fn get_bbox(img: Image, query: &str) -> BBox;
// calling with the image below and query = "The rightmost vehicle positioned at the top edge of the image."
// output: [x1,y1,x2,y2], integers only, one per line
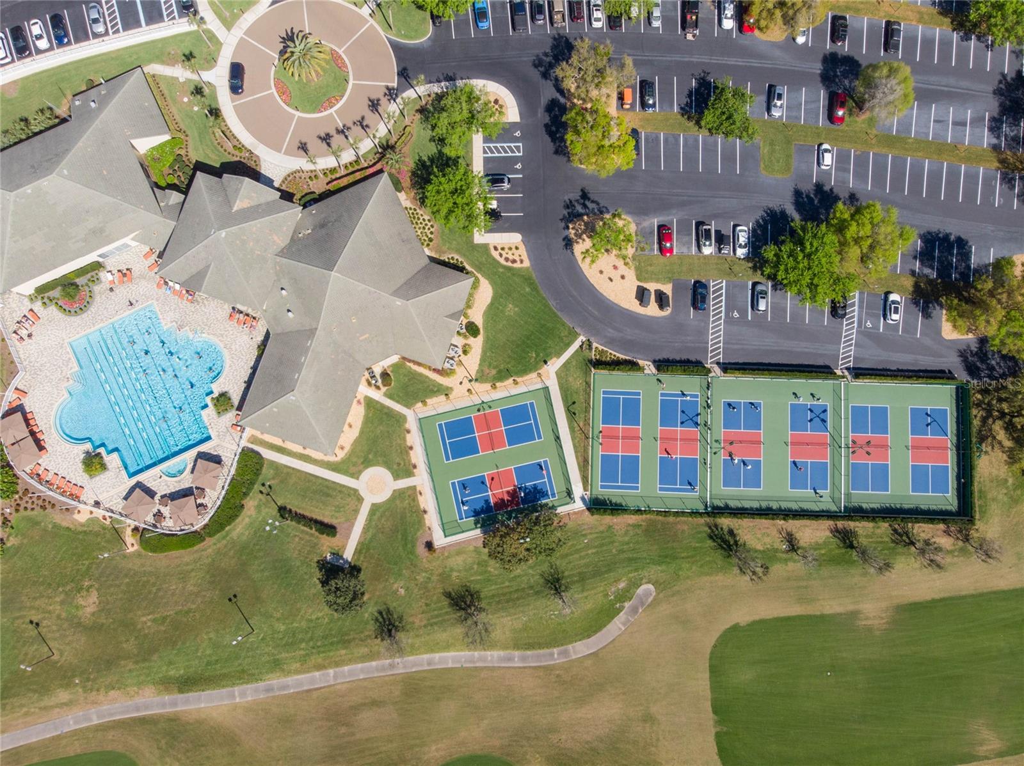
[884,22,901,55]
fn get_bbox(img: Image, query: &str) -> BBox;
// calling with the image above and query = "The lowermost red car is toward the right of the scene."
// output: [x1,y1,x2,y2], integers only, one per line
[659,226,674,256]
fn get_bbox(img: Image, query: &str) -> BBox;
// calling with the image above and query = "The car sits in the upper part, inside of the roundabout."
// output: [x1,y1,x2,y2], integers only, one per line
[228,62,245,94]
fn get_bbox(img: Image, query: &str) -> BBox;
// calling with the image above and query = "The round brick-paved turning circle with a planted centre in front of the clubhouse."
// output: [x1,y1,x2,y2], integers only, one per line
[215,0,400,169]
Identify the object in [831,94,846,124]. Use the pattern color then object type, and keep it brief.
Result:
red car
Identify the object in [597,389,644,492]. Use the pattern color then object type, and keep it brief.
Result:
blue sports court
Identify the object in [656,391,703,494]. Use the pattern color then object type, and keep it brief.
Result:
blue sports court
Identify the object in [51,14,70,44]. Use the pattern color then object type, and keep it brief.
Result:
blue car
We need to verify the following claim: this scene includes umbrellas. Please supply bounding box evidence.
[191,459,222,490]
[7,436,43,471]
[169,496,200,527]
[121,488,158,524]
[0,412,31,446]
